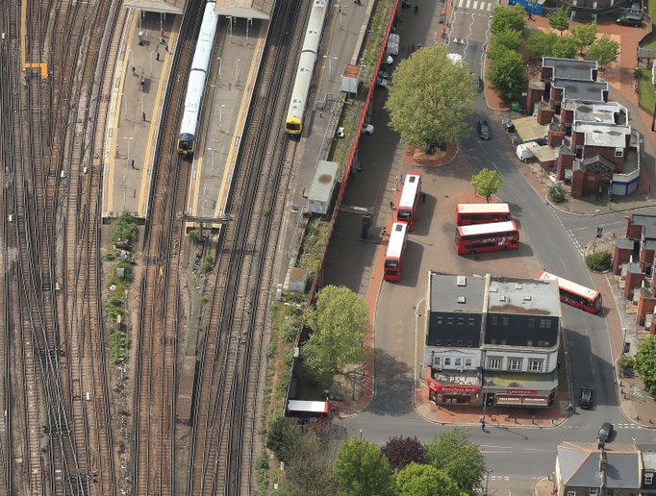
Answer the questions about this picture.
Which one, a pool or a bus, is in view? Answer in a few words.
bus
